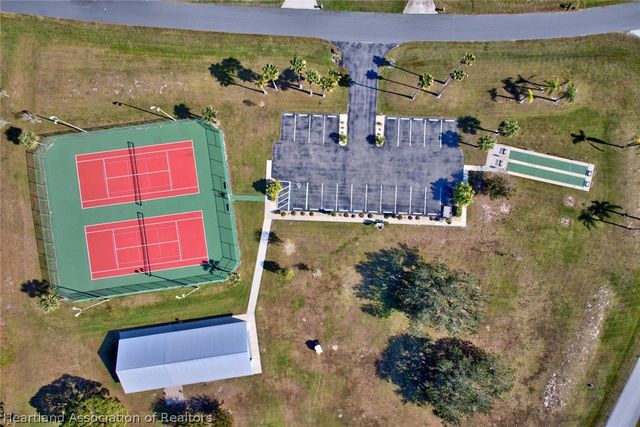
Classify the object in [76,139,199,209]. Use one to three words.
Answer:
tennis court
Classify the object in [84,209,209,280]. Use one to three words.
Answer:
tennis court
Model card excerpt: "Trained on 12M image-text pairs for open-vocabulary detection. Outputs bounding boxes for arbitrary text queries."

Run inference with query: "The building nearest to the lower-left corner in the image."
[116,321,254,393]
